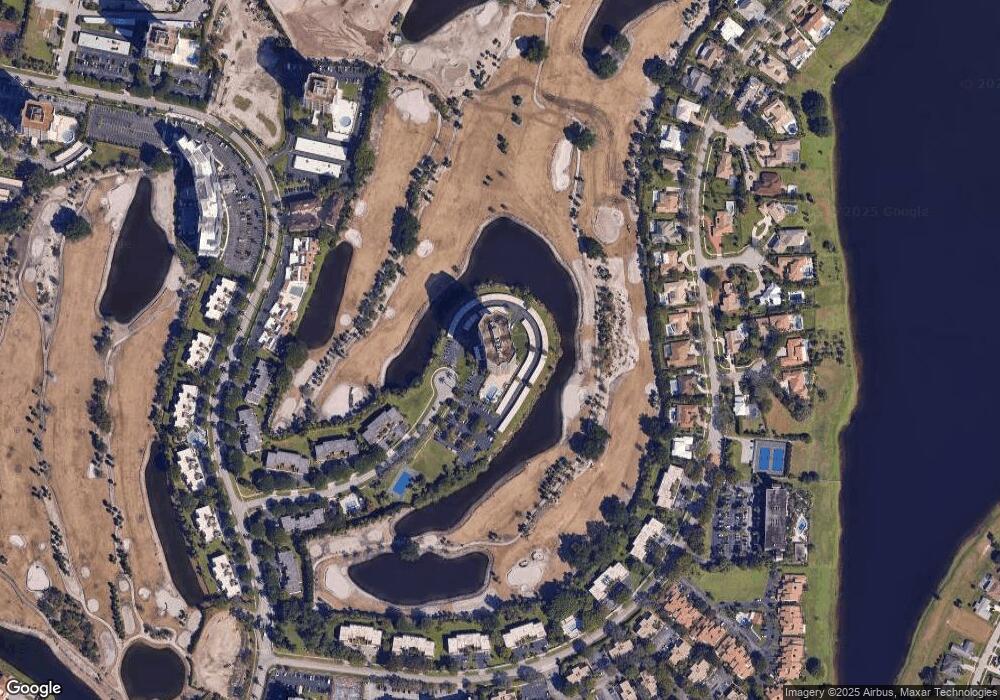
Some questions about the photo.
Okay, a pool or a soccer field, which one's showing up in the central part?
pool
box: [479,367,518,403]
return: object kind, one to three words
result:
swimming pool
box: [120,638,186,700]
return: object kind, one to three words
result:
pond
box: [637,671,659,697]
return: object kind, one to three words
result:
house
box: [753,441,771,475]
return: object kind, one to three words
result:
tennis court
